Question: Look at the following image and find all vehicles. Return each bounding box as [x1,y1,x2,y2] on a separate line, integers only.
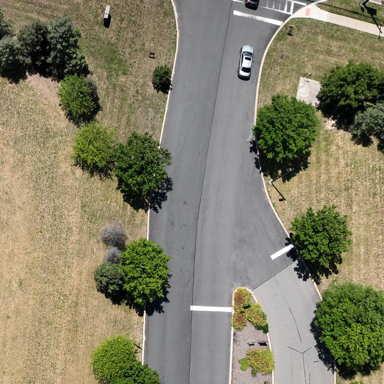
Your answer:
[237,45,256,81]
[244,0,259,12]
